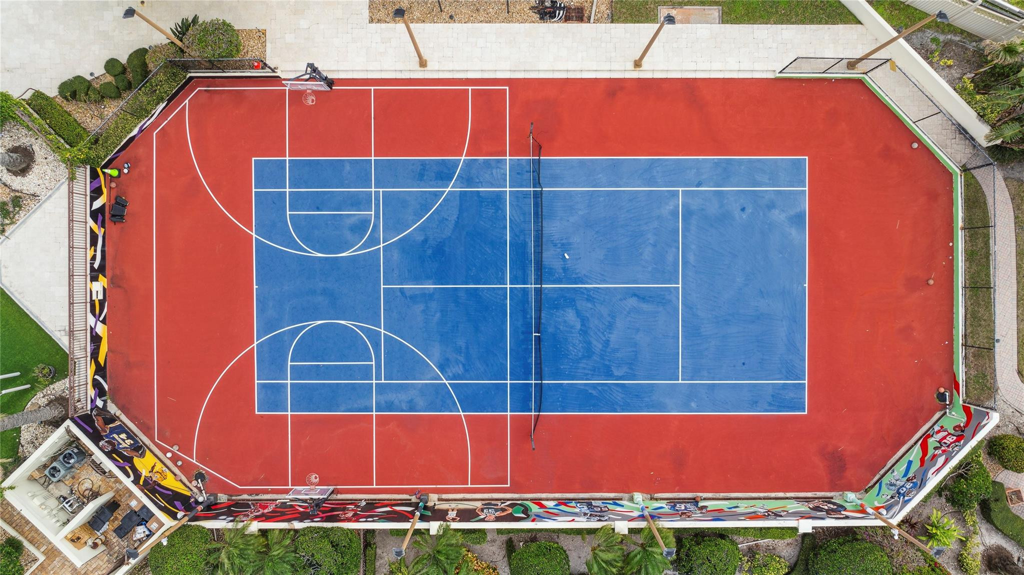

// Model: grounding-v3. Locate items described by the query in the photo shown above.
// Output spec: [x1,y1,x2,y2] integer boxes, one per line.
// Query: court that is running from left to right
[107,78,954,495]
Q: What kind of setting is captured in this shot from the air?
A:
sports ground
